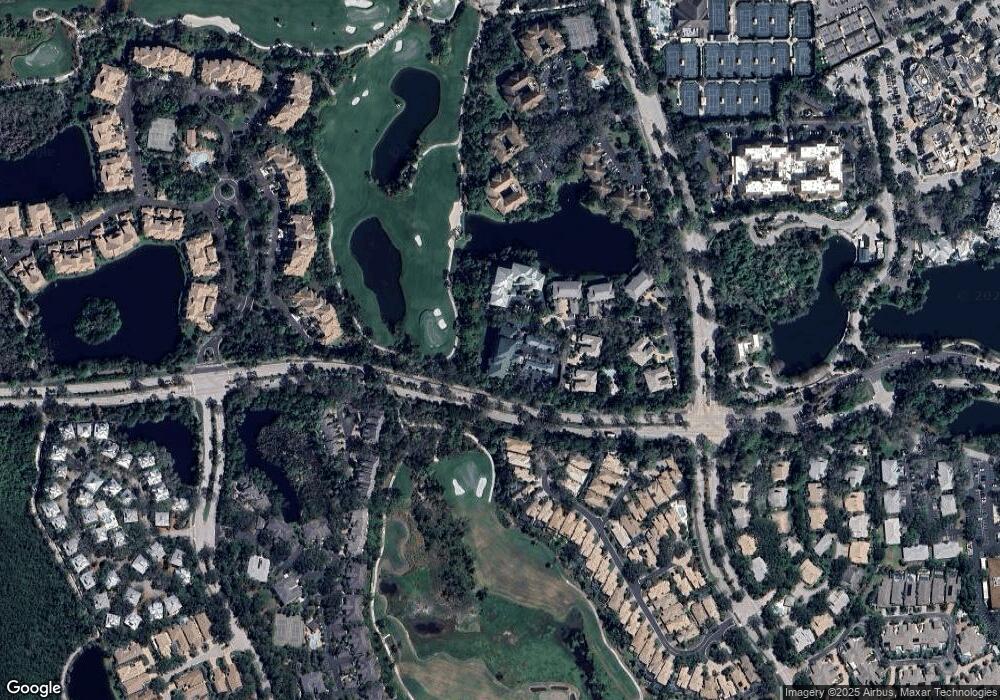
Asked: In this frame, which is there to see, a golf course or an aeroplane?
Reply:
golf course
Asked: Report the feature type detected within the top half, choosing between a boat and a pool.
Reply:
pool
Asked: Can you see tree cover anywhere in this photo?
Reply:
Yes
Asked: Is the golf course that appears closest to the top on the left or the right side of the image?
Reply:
left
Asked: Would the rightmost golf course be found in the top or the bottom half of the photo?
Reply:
bottom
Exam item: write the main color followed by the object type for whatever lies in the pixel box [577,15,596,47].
gray tennis court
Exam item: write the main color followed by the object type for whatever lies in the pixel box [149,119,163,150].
gray tennis court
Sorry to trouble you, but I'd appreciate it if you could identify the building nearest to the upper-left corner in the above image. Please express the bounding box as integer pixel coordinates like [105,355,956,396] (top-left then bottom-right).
[92,64,127,103]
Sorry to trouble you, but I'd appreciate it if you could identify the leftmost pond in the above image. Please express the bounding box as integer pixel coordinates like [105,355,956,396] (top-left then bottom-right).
[64,645,118,700]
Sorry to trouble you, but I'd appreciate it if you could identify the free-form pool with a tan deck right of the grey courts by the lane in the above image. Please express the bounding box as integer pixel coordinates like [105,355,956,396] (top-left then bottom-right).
[181,147,215,171]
